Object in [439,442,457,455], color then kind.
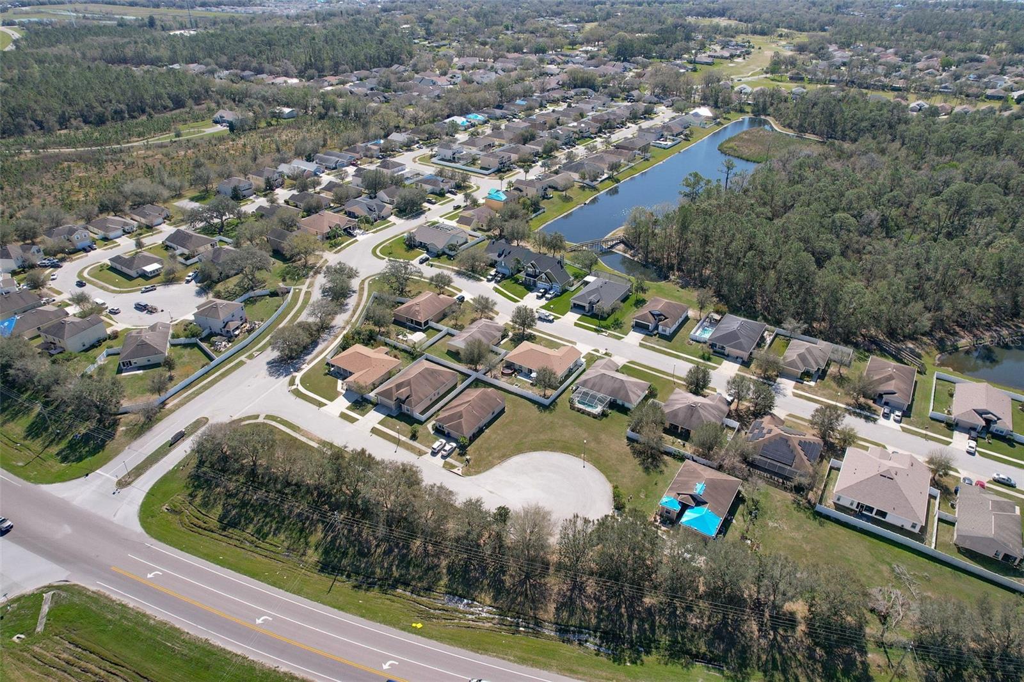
white vehicle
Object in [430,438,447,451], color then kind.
white vehicle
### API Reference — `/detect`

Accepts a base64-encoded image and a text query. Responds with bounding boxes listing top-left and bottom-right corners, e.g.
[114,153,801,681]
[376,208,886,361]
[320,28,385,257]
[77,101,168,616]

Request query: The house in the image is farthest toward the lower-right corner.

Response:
[951,482,1024,569]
